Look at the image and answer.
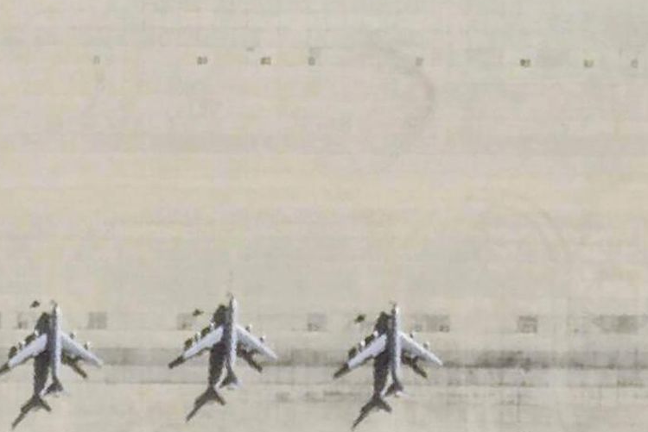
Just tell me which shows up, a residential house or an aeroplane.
aeroplane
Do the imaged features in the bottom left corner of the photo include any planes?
Yes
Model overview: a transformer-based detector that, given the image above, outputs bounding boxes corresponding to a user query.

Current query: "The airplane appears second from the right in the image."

[186,297,280,391]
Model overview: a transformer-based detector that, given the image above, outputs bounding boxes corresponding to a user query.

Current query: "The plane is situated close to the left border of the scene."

[10,306,104,396]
